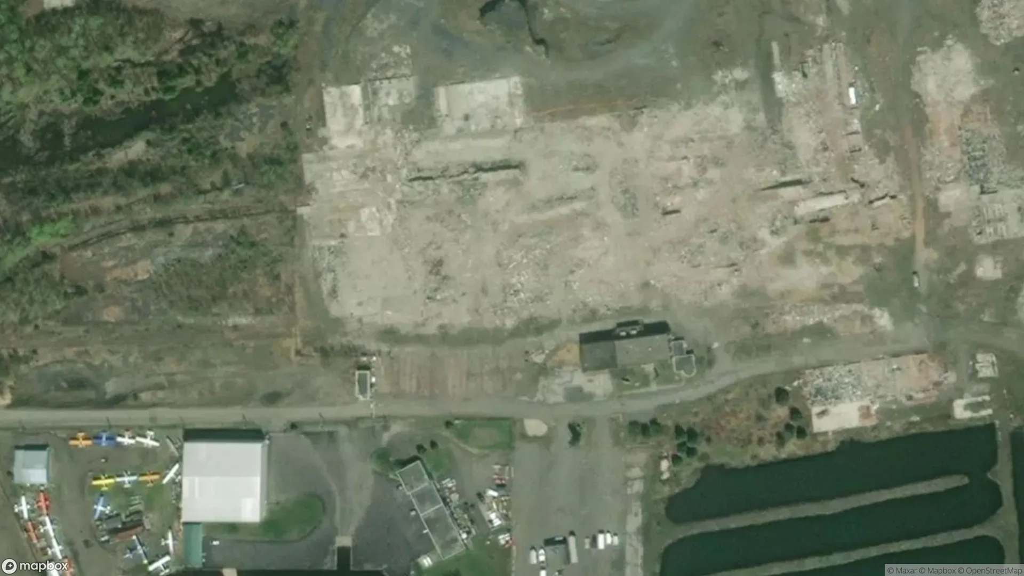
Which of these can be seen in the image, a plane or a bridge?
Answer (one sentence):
The one in the frame is a plane.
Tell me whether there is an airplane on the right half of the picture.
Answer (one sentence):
No, I see no airplane on the right half of the picture.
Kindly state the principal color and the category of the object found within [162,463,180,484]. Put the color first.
white airplane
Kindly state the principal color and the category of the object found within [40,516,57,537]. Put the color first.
white airplane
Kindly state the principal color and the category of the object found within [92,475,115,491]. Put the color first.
yellow airplane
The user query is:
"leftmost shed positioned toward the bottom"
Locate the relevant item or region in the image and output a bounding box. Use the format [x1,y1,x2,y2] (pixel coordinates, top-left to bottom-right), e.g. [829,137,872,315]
[14,450,50,483]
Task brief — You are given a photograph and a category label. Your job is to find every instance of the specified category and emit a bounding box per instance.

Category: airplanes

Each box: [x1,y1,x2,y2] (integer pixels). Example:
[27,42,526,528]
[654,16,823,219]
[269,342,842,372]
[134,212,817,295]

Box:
[92,475,115,491]
[15,496,33,518]
[58,558,76,576]
[148,556,170,575]
[43,560,59,576]
[23,522,40,542]
[135,431,160,447]
[166,438,182,458]
[93,431,115,447]
[94,497,109,518]
[138,471,160,487]
[116,429,135,446]
[162,463,180,484]
[33,492,52,514]
[116,473,137,488]
[161,530,179,553]
[47,538,65,558]
[129,535,148,563]
[40,516,57,537]
[69,433,92,449]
